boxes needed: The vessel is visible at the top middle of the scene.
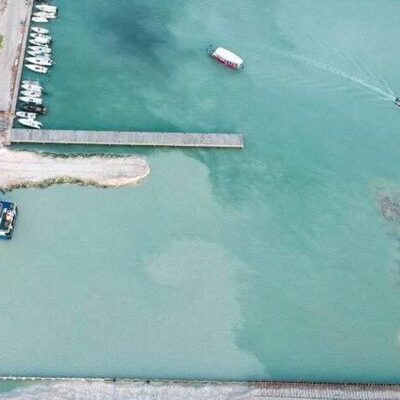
[209,44,248,70]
